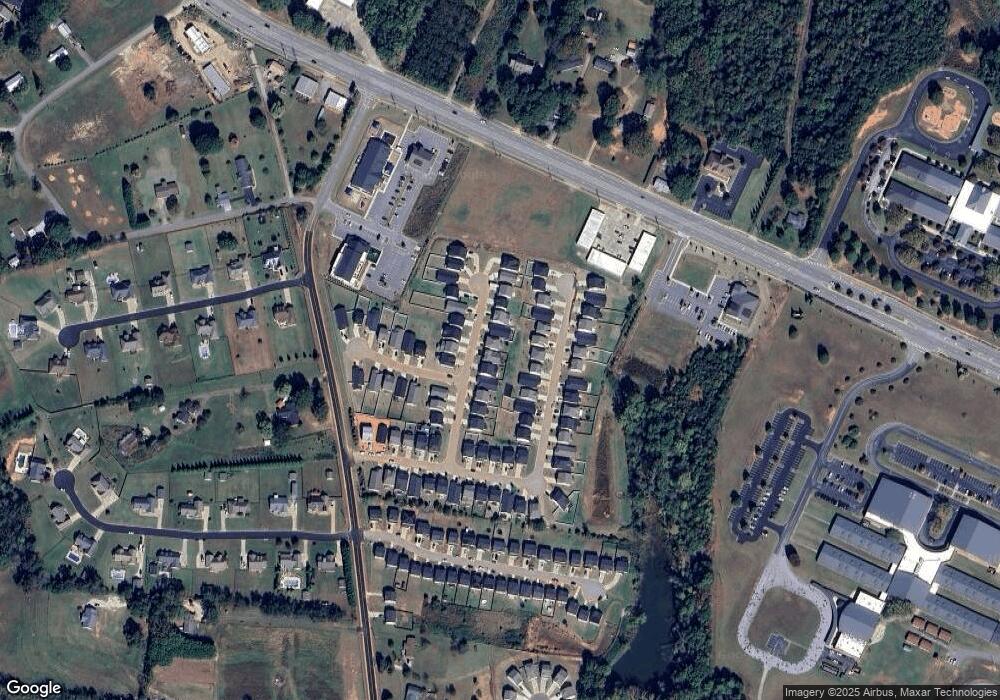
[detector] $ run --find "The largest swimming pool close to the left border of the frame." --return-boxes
[15,451,28,471]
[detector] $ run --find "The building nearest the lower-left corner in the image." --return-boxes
[79,604,100,630]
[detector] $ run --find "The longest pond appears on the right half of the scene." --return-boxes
[607,544,676,684]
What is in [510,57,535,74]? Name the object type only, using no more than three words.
house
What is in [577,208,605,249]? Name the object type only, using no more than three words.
shed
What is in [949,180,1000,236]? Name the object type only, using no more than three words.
building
